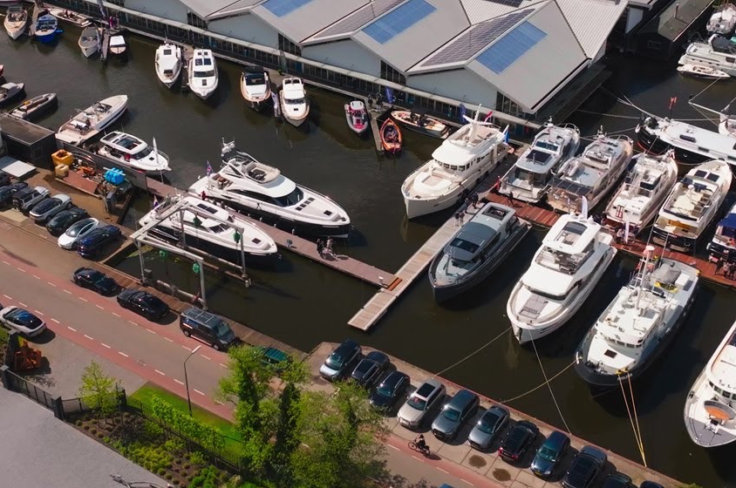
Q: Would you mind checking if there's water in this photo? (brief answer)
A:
Yes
